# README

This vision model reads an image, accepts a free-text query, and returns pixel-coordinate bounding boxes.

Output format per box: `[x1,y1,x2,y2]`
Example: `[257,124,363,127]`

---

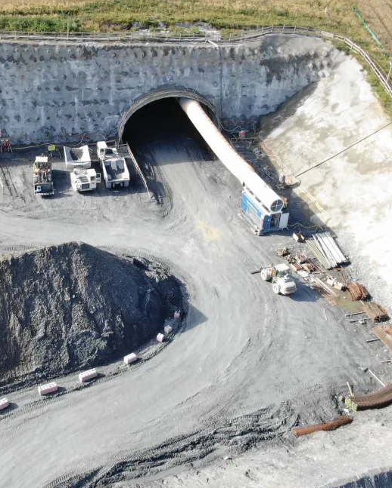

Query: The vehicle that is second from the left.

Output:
[62,142,100,192]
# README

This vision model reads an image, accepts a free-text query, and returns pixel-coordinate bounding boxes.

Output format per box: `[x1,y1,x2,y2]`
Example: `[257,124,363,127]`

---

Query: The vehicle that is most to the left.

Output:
[34,151,59,196]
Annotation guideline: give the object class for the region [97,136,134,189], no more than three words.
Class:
truck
